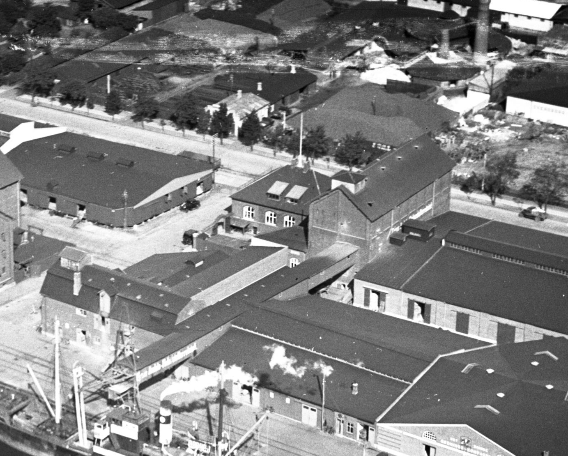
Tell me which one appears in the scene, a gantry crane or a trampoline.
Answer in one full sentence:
This aerial view contains a gantry crane.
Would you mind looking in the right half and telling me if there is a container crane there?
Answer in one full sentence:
No, I can find no container crane in the right half.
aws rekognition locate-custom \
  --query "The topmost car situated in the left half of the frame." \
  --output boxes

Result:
[185,200,198,214]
